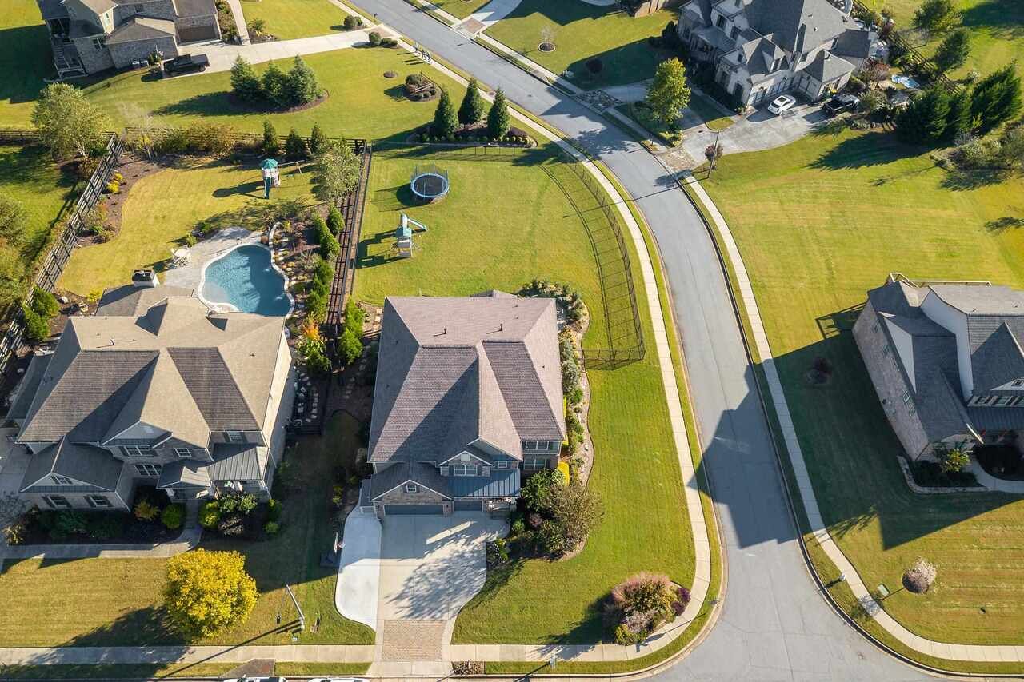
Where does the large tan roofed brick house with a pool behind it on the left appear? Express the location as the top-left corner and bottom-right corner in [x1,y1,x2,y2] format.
[0,273,296,523]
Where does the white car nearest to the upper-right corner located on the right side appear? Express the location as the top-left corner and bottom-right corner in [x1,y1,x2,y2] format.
[766,94,798,116]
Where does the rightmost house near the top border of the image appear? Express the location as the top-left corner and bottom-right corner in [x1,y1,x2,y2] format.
[676,0,881,106]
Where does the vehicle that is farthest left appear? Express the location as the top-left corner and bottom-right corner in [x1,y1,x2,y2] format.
[161,53,210,75]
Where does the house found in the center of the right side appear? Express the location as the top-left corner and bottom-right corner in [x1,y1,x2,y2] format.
[856,274,1024,473]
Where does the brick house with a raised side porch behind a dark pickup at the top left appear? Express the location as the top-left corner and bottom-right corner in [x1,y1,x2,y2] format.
[28,0,224,80]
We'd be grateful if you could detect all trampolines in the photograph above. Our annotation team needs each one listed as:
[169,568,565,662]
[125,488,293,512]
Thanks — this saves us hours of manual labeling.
[409,161,449,203]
